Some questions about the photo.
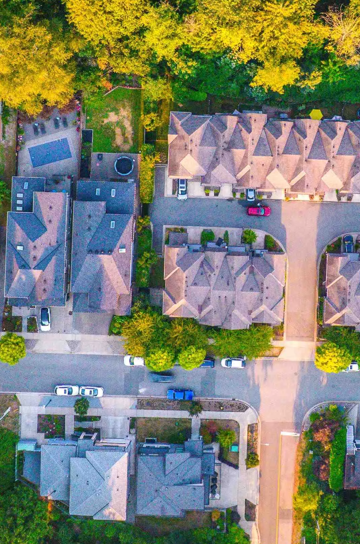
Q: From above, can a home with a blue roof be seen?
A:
Yes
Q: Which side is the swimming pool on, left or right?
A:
left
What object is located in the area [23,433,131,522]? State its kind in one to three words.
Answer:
house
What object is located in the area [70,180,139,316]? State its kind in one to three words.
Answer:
house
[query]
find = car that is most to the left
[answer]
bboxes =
[39,307,51,330]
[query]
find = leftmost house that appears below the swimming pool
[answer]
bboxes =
[4,176,73,308]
